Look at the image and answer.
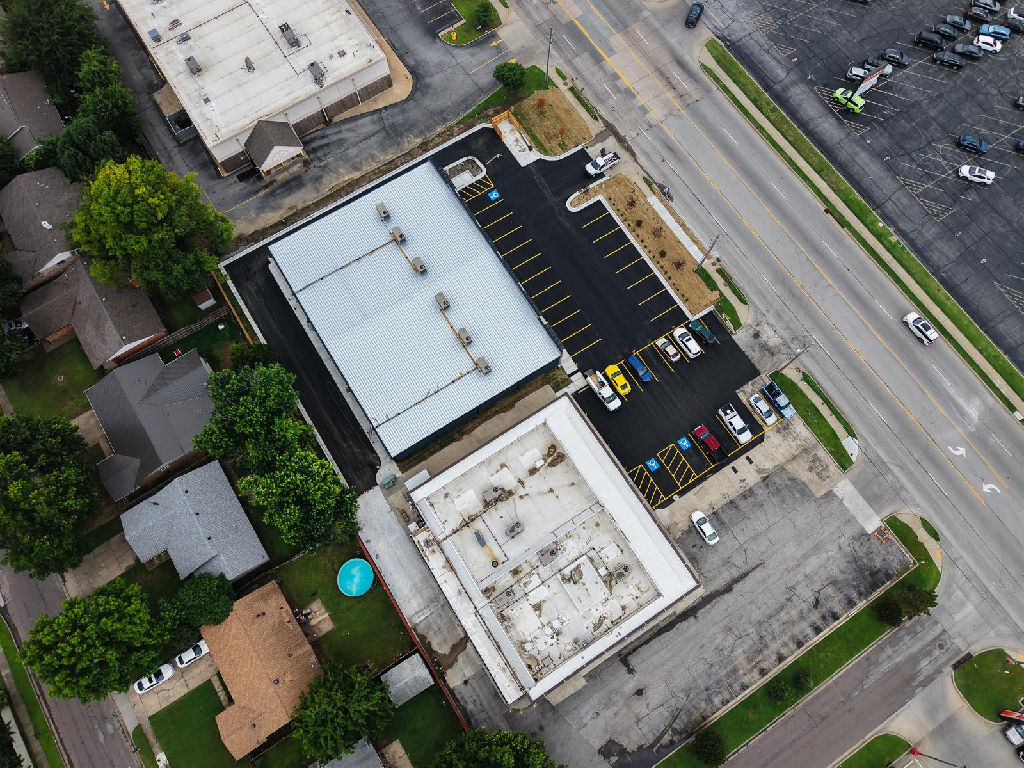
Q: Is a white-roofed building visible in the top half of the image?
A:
Yes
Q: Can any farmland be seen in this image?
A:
No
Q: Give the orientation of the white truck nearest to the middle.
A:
at an angle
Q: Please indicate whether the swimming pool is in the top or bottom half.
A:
bottom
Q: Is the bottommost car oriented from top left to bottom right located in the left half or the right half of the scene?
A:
right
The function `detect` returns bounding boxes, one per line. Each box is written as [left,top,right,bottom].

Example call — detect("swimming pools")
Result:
[335,555,381,598]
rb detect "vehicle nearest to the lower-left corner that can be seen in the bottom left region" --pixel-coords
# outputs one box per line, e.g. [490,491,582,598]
[133,662,175,696]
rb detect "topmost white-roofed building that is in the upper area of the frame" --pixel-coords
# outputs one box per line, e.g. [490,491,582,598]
[122,0,392,176]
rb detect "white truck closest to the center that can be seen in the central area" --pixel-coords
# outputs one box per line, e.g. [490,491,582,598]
[586,370,621,411]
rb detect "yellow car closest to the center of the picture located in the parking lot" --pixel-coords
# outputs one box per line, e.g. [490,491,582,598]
[606,364,632,396]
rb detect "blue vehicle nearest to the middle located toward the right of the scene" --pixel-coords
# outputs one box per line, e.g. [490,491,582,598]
[627,353,653,383]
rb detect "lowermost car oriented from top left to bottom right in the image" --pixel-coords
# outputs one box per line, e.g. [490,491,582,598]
[691,509,721,547]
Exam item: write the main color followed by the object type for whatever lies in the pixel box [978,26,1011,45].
blue car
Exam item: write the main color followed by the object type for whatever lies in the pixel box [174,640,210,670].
white car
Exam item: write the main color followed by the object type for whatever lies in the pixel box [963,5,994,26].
black car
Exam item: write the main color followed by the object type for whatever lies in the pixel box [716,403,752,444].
white truck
